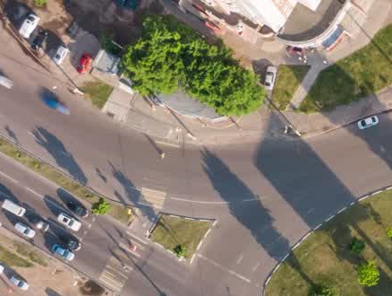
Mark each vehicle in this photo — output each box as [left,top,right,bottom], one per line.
[63,198,88,216]
[15,11,43,41]
[13,221,38,239]
[263,66,276,90]
[57,213,82,230]
[0,72,10,84]
[116,0,140,10]
[0,197,30,218]
[61,233,84,251]
[52,243,75,260]
[44,94,67,112]
[286,46,307,56]
[52,45,70,65]
[7,274,31,292]
[30,216,55,233]
[76,52,93,75]
[29,28,49,52]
